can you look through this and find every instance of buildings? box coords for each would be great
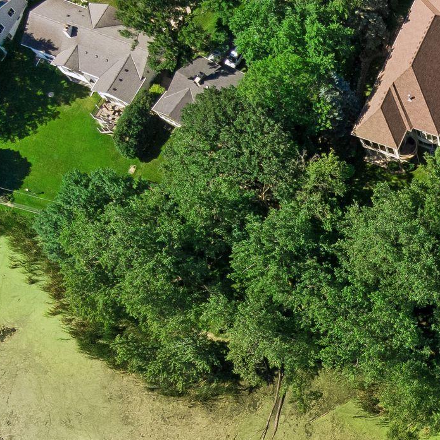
[154,55,267,132]
[21,0,164,141]
[357,0,440,161]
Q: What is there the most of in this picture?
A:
trees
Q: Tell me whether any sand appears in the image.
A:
No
